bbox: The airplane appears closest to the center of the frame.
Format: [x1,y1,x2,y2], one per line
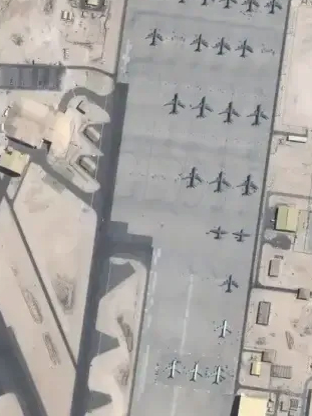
[182,167,202,189]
